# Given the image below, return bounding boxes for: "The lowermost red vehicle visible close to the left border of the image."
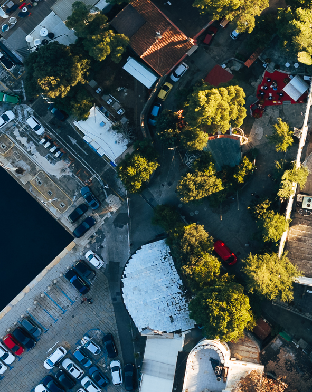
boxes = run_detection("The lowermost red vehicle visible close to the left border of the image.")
[0,334,24,357]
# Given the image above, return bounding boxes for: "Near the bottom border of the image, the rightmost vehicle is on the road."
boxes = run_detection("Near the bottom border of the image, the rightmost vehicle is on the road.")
[119,364,136,392]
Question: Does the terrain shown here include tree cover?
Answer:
Yes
